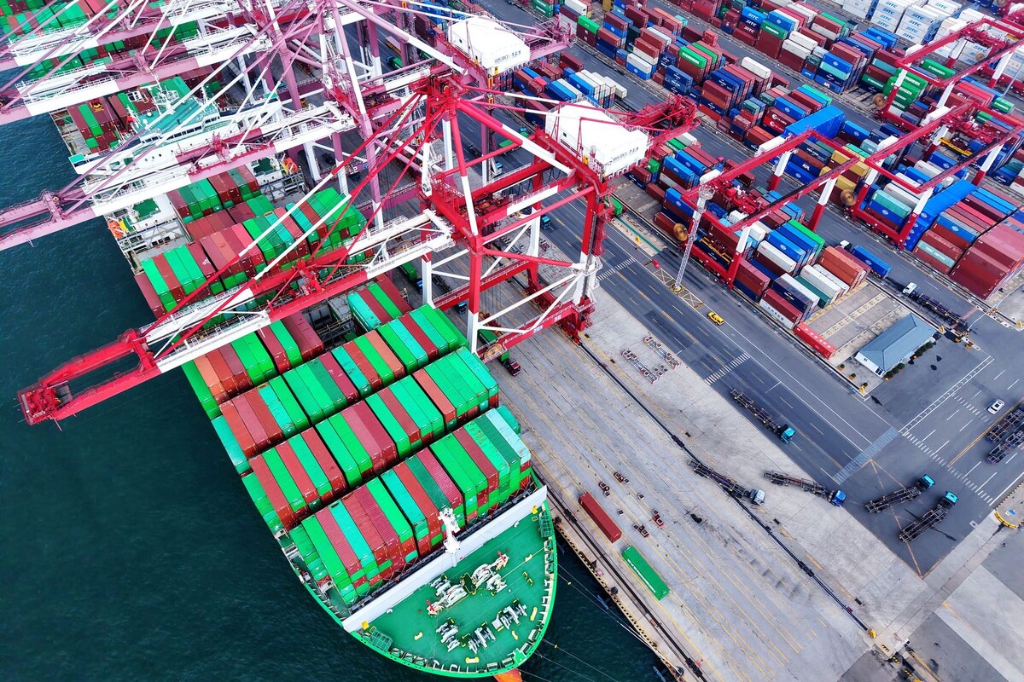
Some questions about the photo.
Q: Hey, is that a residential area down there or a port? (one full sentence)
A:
What you see here is a port.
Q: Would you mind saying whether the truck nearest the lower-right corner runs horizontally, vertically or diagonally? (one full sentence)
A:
I'd say the truck nearest the lower-right corner is aligned diagonally in the picture.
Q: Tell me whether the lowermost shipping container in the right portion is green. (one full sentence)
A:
Yes, the lowermost shipping container in the right portion is green.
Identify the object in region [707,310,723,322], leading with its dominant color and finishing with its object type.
yellow vehicle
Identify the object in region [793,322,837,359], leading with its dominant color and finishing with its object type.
red shipping container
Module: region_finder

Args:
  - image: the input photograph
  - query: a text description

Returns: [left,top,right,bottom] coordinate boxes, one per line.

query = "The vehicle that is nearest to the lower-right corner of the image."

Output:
[906,491,963,537]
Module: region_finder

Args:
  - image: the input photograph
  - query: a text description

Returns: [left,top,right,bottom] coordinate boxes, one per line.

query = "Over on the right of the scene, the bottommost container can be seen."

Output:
[622,547,670,602]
